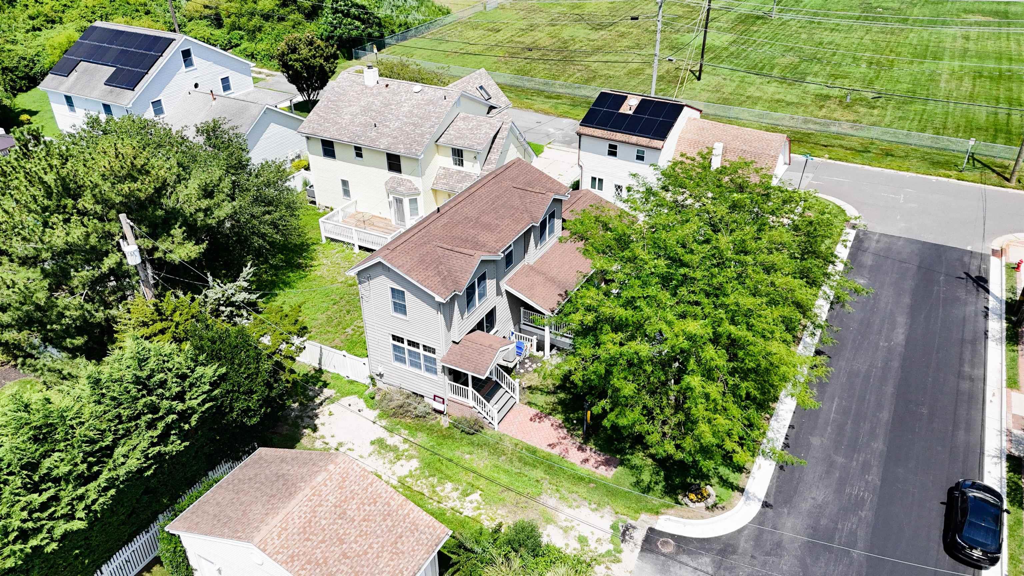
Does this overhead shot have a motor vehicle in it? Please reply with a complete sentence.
Yes, the frame does contain a motor vehicle.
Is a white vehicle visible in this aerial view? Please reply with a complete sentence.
No, no white vehicle can be seen from above.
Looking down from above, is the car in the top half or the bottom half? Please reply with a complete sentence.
The car sits in the bottom half of the picture.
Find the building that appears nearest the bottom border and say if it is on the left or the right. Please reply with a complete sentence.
The building that appears nearest the bottom border appears in the left half of the scene.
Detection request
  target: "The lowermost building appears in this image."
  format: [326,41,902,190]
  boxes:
[163,448,454,576]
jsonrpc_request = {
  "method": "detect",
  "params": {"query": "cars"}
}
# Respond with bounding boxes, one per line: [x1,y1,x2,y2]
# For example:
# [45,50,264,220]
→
[940,479,1014,573]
